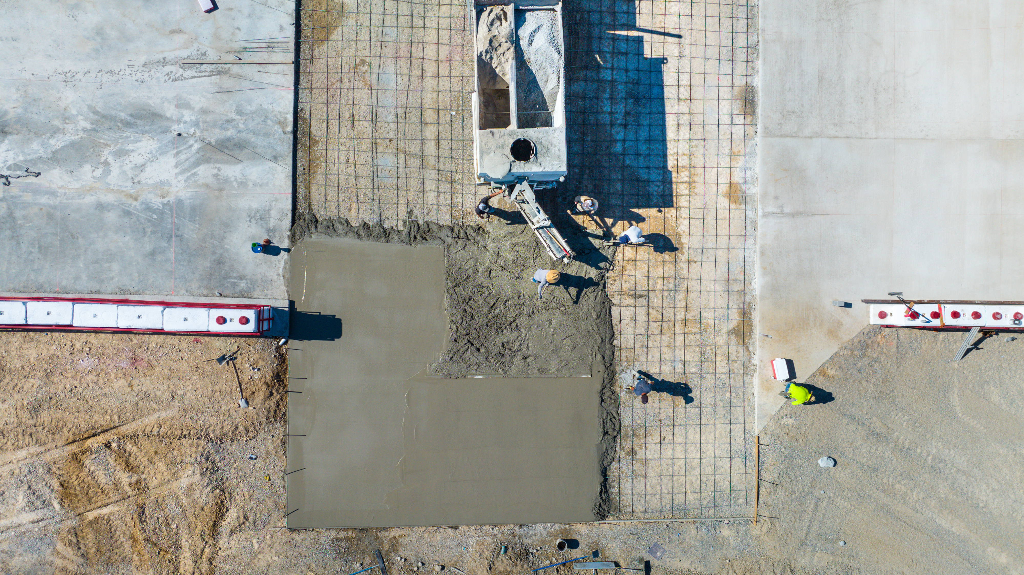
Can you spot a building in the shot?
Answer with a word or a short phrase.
No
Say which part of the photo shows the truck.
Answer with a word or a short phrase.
top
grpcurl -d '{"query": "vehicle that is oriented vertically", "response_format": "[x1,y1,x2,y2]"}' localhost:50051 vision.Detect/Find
[469,0,573,264]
